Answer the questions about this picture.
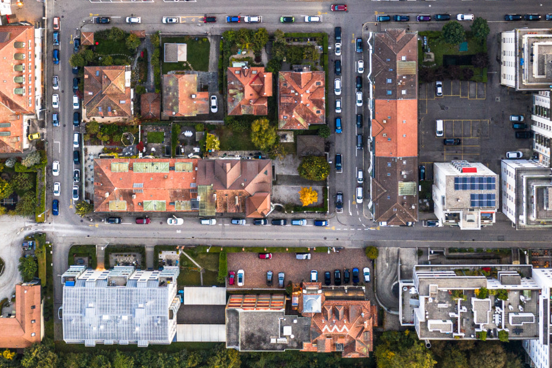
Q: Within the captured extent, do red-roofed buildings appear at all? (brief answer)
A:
Yes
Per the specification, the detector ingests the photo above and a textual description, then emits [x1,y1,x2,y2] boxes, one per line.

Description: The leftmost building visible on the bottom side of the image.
[0,280,45,348]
